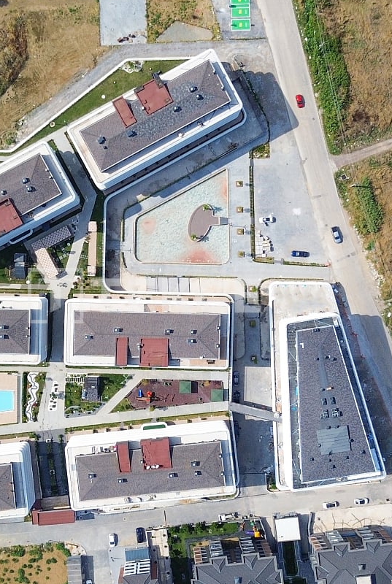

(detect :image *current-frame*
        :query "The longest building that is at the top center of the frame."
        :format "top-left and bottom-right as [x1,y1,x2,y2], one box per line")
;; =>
[68,51,242,195]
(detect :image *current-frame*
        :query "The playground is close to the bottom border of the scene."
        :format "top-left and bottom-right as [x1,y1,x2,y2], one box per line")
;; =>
[186,520,263,573]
